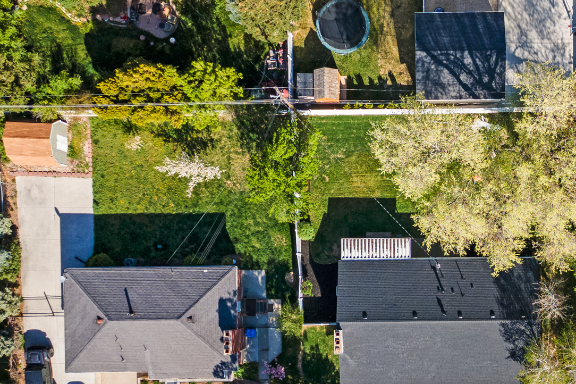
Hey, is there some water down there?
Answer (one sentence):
No, the scene doesn't show any water.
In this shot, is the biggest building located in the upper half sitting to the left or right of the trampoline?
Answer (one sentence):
To the right of the trampoline is where the biggest building located in the upper half appears.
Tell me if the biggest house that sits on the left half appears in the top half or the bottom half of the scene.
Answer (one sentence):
The biggest house that sits on the left half is in the bottom half of the image.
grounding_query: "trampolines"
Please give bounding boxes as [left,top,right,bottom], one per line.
[315,0,370,53]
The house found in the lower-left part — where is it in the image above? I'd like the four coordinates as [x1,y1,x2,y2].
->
[56,265,248,382]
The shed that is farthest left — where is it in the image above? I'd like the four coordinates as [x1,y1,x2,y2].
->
[3,120,69,166]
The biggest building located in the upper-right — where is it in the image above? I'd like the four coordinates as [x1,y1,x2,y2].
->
[417,12,506,102]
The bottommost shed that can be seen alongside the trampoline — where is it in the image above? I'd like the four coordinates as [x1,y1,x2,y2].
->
[315,68,340,105]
